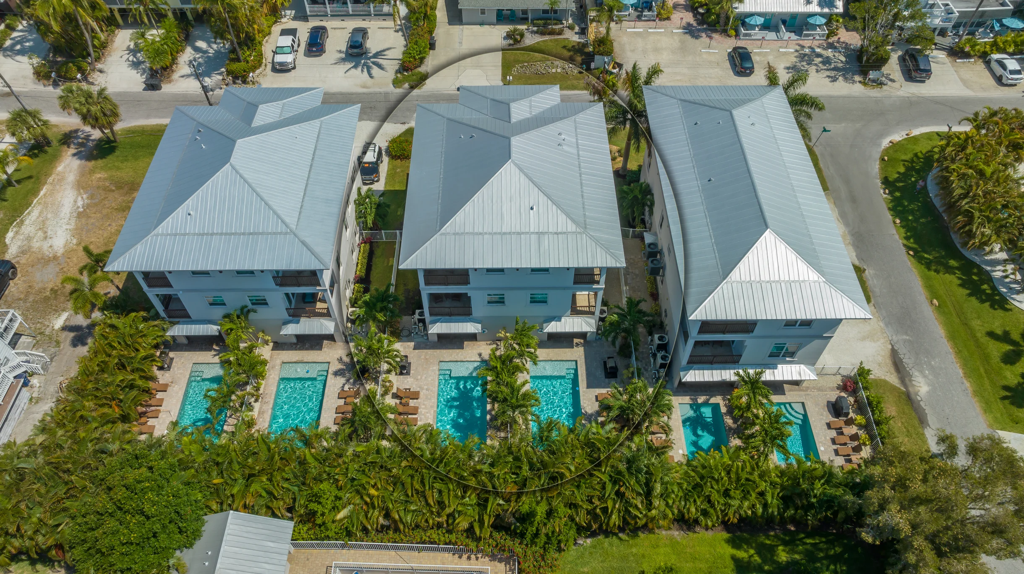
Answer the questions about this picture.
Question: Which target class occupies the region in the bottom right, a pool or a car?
pool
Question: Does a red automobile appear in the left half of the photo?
No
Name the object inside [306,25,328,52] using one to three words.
car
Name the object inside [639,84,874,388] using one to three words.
house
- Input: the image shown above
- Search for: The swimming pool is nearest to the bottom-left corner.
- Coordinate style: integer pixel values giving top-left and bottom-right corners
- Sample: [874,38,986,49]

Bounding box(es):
[164,359,235,457]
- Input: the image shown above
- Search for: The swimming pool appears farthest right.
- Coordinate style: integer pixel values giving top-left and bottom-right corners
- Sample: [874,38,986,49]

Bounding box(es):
[767,398,829,488]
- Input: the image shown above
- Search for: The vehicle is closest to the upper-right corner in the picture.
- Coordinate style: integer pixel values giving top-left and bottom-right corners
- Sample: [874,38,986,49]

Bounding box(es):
[990,51,1024,80]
